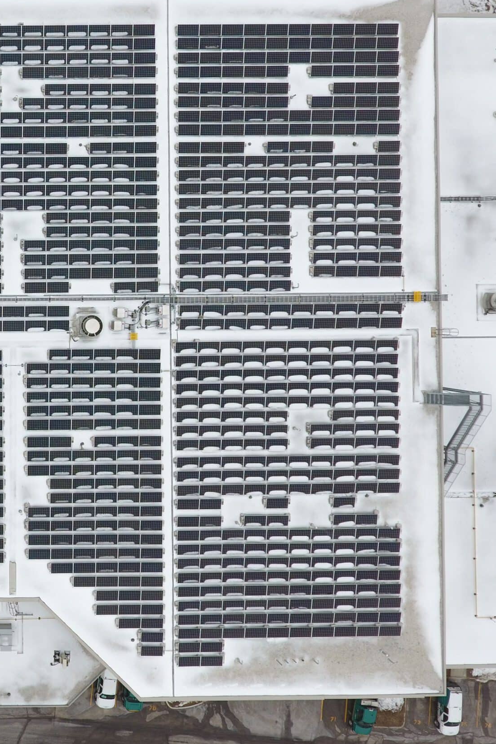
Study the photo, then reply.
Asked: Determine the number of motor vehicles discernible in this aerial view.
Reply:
4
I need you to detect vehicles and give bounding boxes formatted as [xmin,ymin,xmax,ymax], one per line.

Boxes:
[122,687,144,711]
[435,673,466,736]
[349,697,377,735]
[97,669,120,709]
